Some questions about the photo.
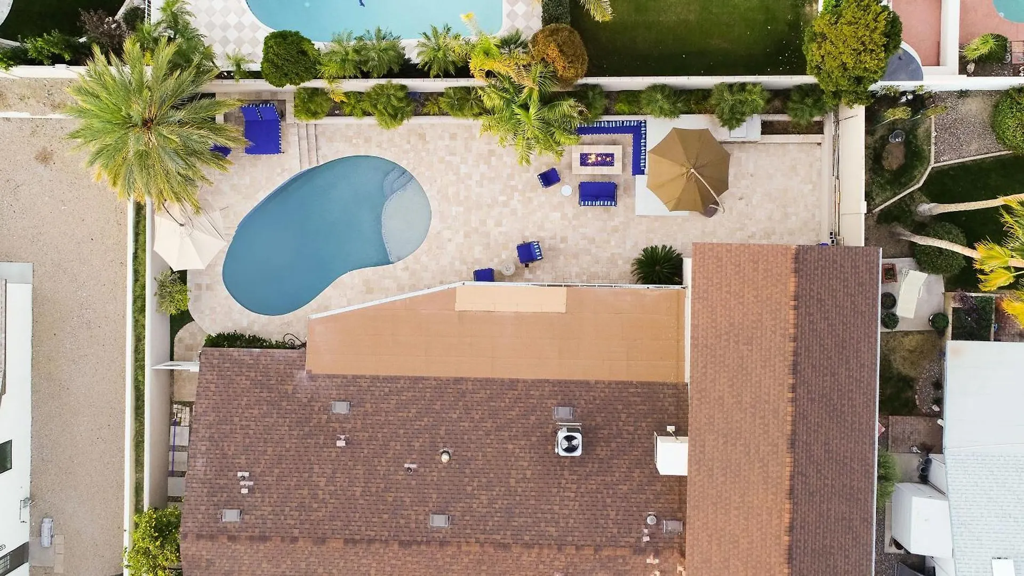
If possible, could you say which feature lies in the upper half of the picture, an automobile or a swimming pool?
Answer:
swimming pool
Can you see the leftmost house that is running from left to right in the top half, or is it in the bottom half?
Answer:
bottom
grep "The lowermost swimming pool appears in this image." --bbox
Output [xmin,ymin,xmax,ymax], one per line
[221,153,433,317]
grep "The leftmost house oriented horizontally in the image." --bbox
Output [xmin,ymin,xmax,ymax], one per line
[181,244,883,576]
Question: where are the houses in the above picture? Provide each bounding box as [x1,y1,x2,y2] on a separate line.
[181,244,883,576]
[0,280,43,576]
[927,341,1024,576]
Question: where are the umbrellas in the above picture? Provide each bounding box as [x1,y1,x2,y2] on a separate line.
[646,128,730,217]
[154,198,227,271]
